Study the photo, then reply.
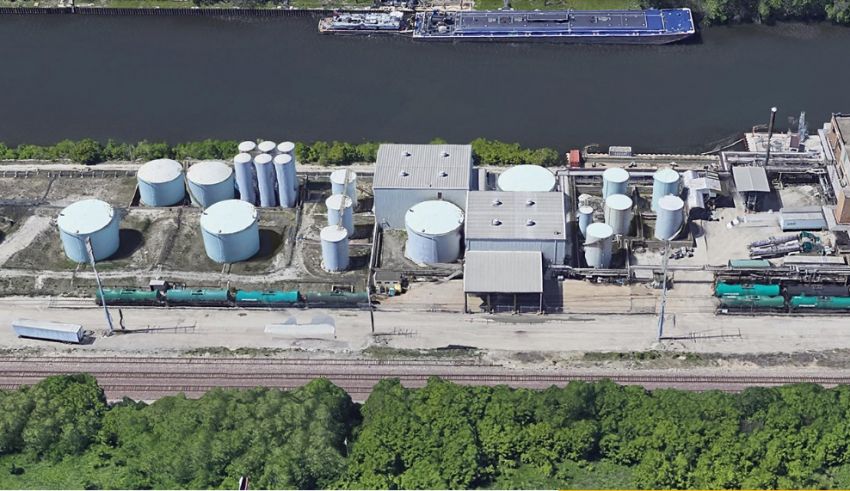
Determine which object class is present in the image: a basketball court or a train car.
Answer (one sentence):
Looking from above, you can make out a train car.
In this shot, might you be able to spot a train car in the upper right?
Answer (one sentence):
No, no train car appears in the upper right.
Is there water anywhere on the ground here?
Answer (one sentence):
Yes, some water is visible.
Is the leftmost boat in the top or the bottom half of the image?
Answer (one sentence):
The top half of the photo is where the leftmost boat is.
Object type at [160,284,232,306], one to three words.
rail car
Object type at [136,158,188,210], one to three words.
storage tank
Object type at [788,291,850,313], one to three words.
rail car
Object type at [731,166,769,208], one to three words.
shed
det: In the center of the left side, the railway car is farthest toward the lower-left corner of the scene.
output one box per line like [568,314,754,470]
[90,284,163,305]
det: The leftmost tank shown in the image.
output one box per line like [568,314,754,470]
[56,200,122,266]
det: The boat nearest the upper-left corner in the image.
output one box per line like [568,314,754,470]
[321,3,405,35]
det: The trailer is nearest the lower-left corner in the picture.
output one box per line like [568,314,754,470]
[14,318,83,343]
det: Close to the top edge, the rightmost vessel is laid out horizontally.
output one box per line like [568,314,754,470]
[412,9,695,43]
